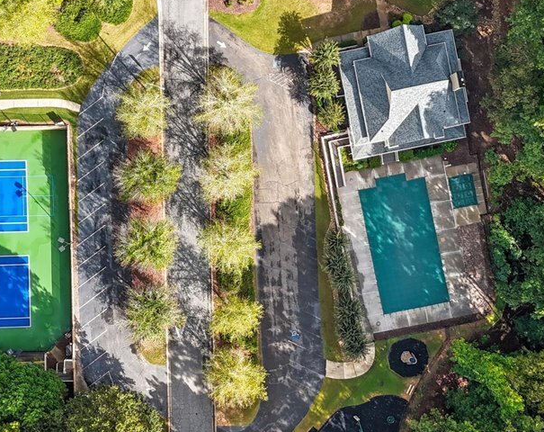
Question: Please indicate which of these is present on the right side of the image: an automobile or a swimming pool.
swimming pool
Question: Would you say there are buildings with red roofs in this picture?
No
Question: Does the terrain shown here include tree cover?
Yes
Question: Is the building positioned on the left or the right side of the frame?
right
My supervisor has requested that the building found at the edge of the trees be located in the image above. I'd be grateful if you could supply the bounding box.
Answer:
[334,24,472,164]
